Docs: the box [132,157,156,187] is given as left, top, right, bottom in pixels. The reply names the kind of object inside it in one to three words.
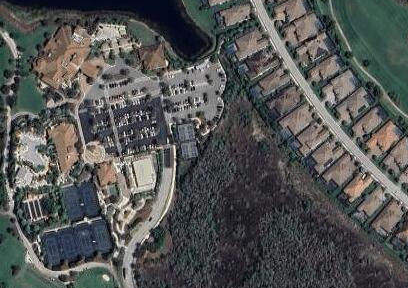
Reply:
building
